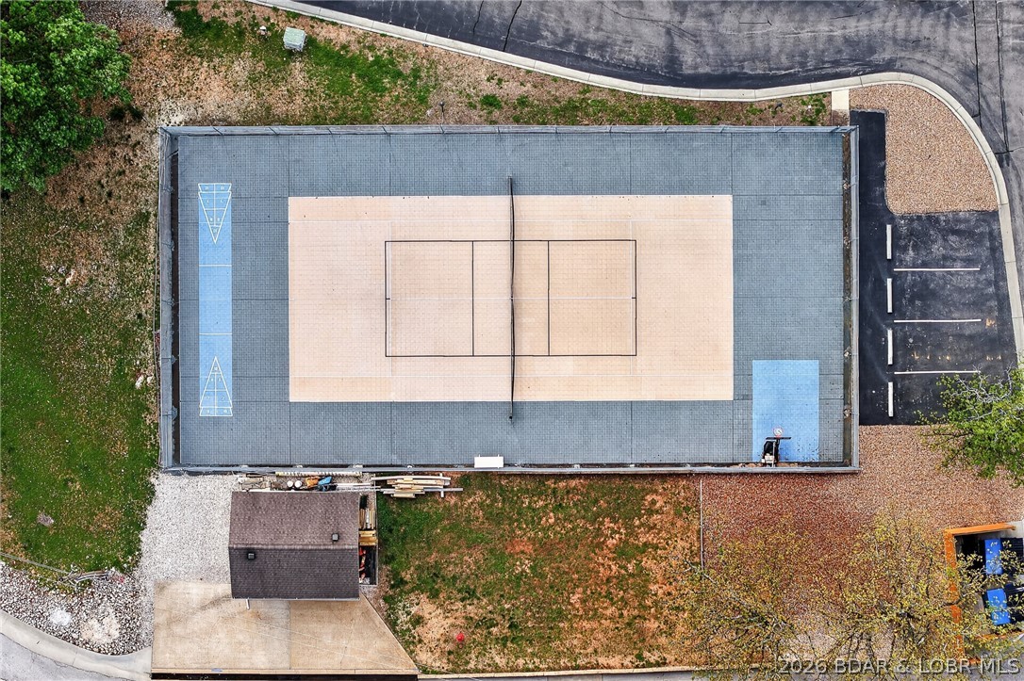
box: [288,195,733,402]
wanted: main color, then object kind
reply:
white tennis court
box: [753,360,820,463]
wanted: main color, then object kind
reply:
blue basketball court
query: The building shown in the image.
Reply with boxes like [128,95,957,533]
[228,488,361,600]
